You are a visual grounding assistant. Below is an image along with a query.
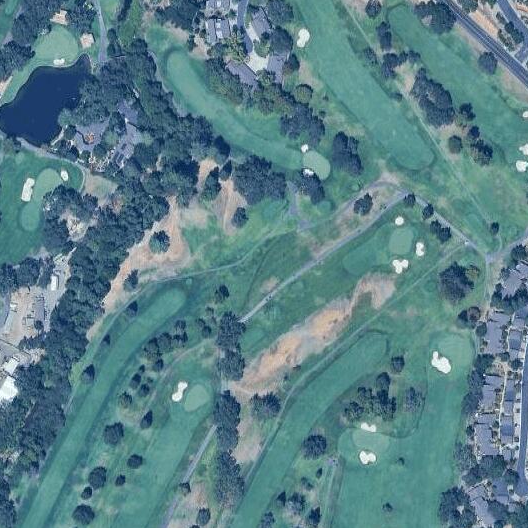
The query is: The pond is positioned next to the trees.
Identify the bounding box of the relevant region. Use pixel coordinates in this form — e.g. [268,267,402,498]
[0,55,98,146]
